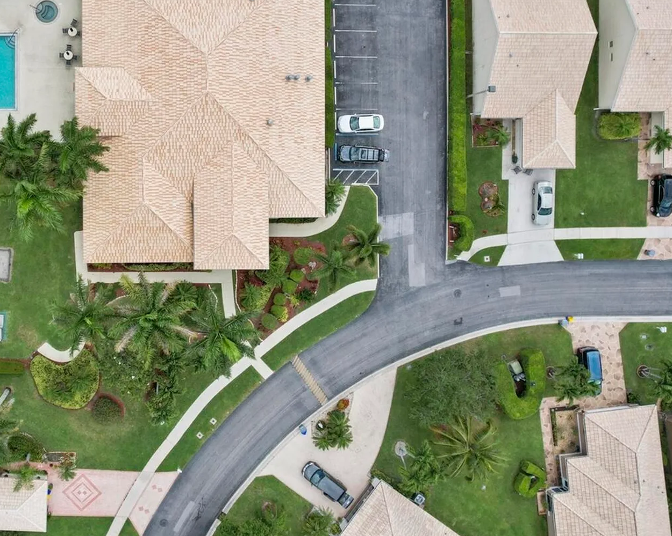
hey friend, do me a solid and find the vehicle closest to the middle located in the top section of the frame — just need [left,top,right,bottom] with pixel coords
[336,143,385,165]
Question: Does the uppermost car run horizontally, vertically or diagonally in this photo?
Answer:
horizontally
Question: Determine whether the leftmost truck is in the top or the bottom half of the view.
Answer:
bottom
